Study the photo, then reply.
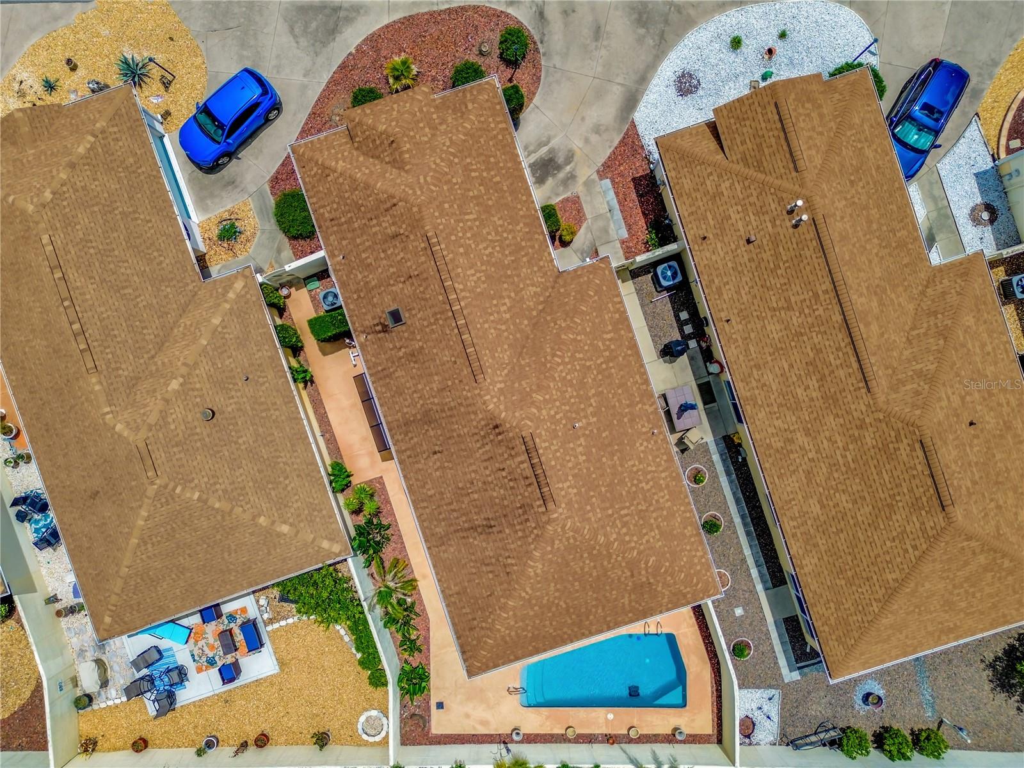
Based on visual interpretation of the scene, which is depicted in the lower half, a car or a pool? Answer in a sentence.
Visible in the lower half is a pool.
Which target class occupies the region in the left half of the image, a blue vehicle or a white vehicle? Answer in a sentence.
Visible in the left half of the image is a blue vehicle.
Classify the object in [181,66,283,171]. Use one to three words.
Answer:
car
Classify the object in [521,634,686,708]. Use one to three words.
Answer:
swimming pool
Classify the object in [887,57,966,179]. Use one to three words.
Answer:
car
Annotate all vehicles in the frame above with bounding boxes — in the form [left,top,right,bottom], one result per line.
[887,57,966,179]
[181,66,283,171]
